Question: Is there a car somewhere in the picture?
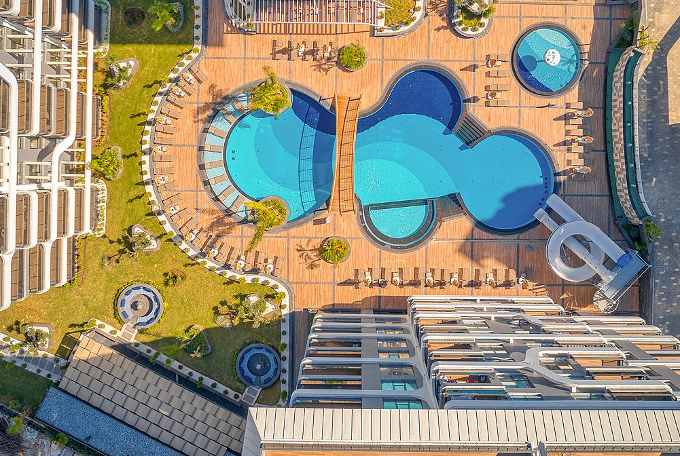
No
